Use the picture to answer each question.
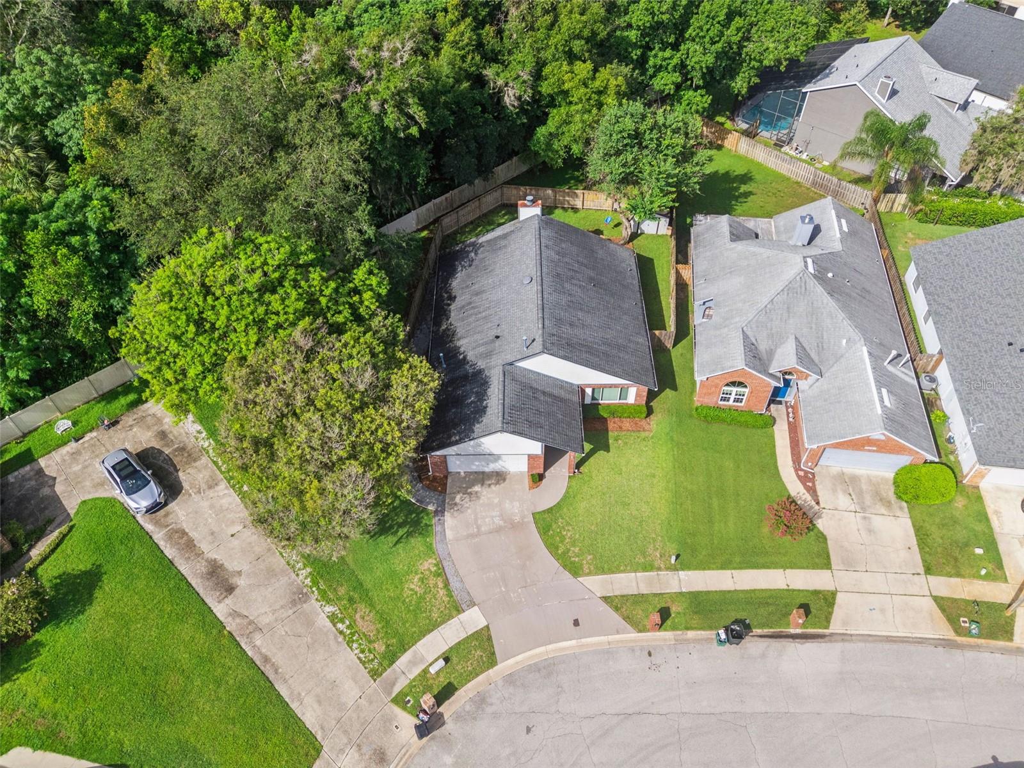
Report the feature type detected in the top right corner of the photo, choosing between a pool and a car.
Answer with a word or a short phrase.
pool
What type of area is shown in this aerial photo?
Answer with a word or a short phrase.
residential area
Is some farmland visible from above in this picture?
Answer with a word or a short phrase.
No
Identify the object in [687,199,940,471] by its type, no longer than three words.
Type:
house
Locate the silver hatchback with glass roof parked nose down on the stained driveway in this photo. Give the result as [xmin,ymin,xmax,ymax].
[104,451,165,516]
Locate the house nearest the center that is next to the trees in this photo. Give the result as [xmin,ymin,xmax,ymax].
[419,192,659,479]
